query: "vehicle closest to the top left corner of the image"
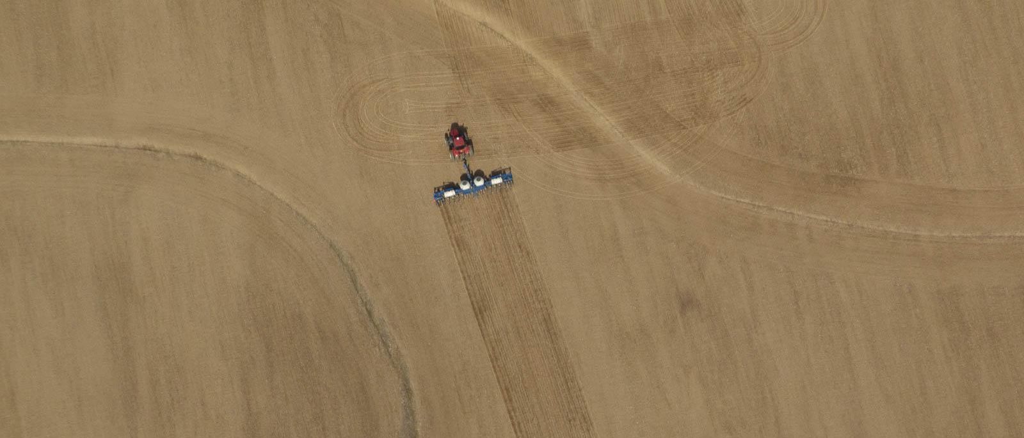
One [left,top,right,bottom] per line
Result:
[444,123,475,163]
